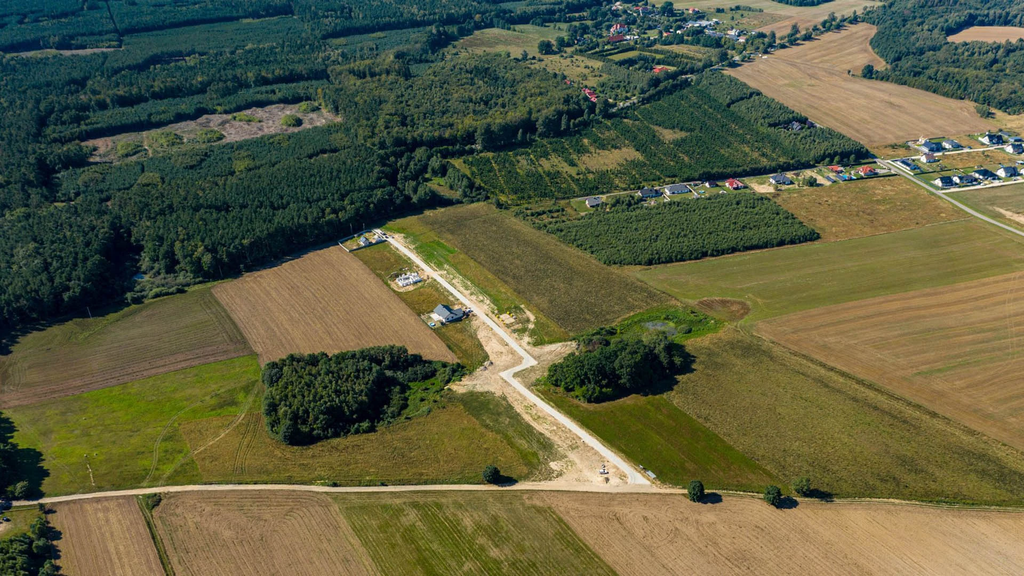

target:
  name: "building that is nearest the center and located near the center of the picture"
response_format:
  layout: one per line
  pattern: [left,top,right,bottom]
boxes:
[429,304,466,325]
